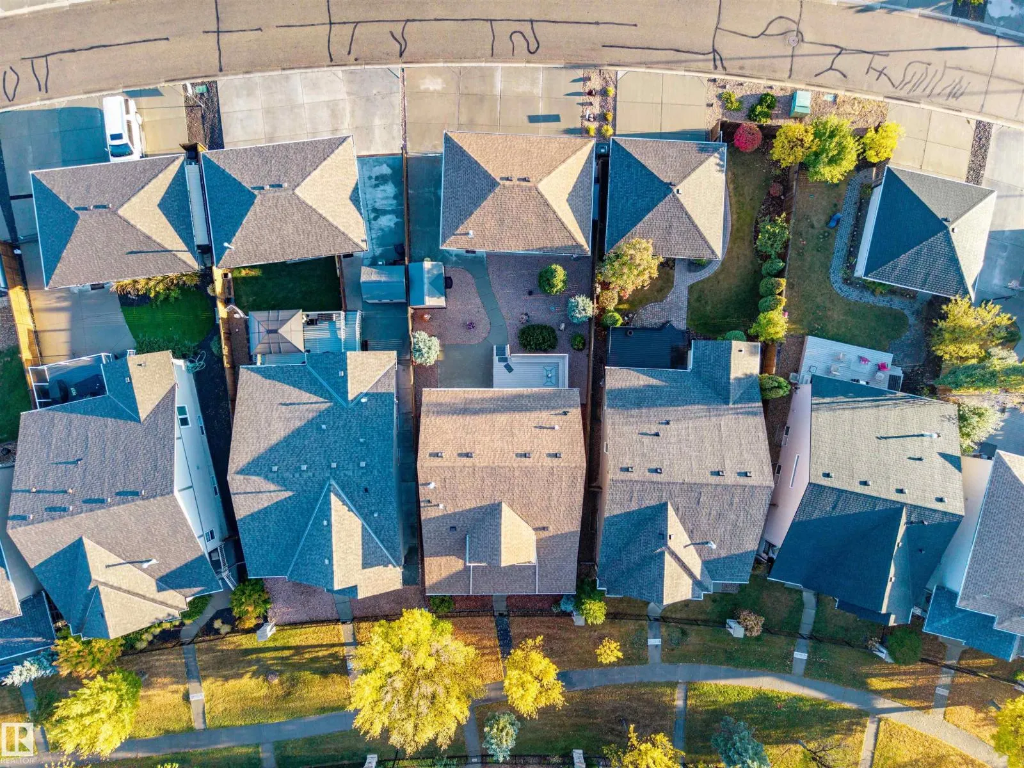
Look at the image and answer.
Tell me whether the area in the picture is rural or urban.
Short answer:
urban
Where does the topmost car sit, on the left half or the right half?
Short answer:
left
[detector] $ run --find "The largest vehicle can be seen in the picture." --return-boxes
[106,95,152,159]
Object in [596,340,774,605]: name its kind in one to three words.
house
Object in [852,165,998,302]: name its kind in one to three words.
building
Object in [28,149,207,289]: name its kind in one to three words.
building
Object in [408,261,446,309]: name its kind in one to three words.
shed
